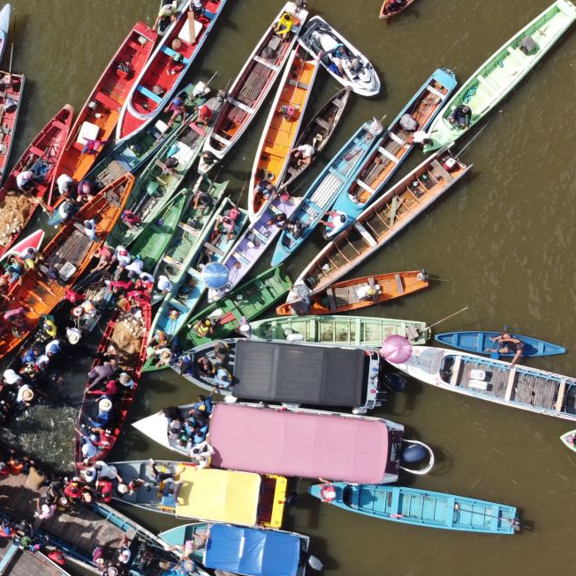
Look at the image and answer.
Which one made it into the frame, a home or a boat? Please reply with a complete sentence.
Of the two, only a boat appears.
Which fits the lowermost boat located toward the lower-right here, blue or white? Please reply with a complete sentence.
The color of the lowermost boat located toward the lower-right is blue.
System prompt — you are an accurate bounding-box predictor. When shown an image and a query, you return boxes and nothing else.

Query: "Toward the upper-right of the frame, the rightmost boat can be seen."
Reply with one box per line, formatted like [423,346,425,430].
[419,0,576,155]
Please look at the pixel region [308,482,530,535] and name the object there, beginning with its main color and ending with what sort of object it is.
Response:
blue boat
